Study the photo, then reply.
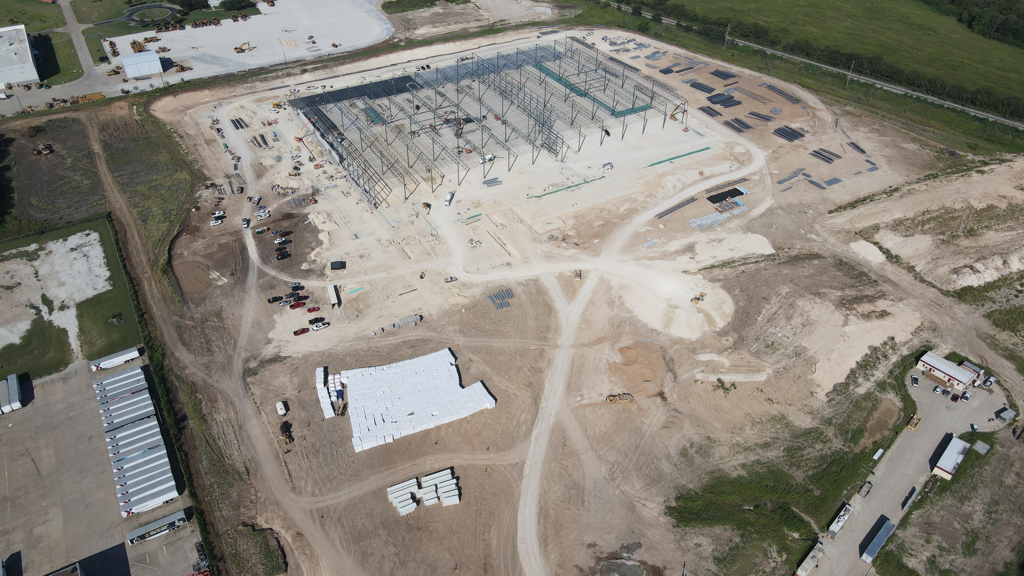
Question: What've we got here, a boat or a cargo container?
cargo container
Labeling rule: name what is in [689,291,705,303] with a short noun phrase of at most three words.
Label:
vehicle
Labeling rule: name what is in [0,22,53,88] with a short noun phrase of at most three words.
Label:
building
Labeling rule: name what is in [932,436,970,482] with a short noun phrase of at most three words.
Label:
trailer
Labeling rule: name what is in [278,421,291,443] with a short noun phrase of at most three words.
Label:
vehicle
